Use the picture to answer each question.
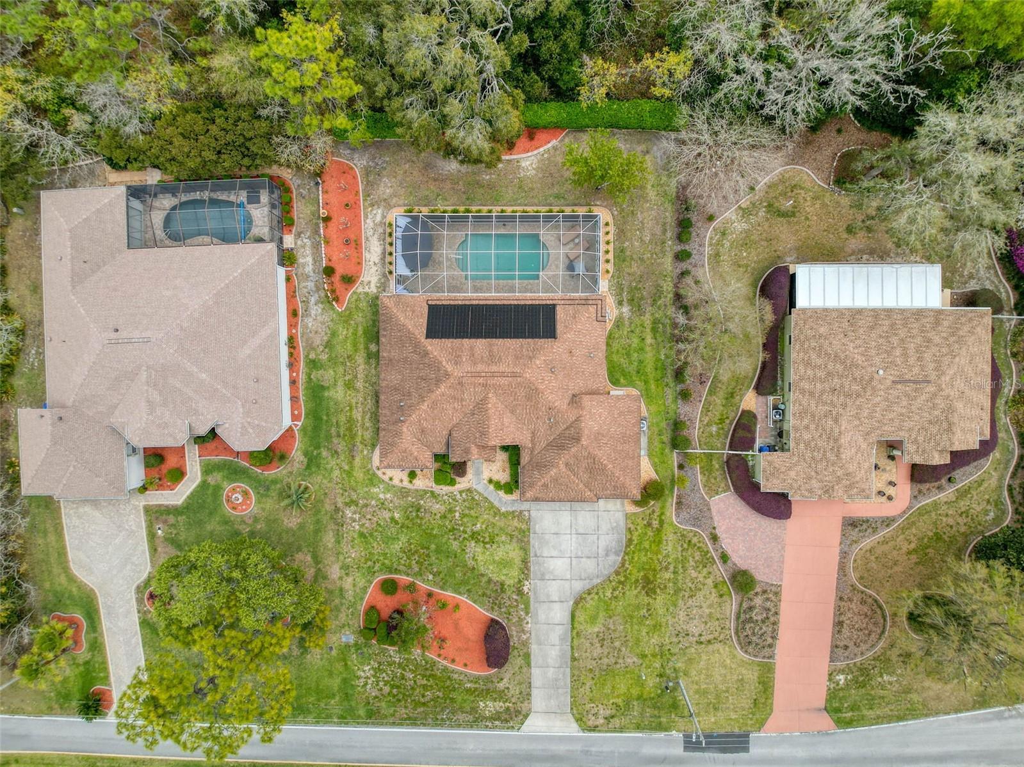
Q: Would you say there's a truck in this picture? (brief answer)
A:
No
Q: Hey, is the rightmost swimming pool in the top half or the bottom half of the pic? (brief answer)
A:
top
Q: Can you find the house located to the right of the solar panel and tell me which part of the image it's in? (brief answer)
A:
right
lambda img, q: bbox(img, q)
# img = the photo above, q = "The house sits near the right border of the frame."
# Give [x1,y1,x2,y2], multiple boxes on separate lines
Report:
[753,263,992,501]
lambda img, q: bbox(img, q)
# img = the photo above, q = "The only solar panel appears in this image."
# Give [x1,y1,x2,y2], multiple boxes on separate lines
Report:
[426,299,606,338]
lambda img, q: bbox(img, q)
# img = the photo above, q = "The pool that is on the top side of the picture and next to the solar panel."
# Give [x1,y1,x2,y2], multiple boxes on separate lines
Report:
[455,233,551,282]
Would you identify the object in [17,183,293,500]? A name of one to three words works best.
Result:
house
